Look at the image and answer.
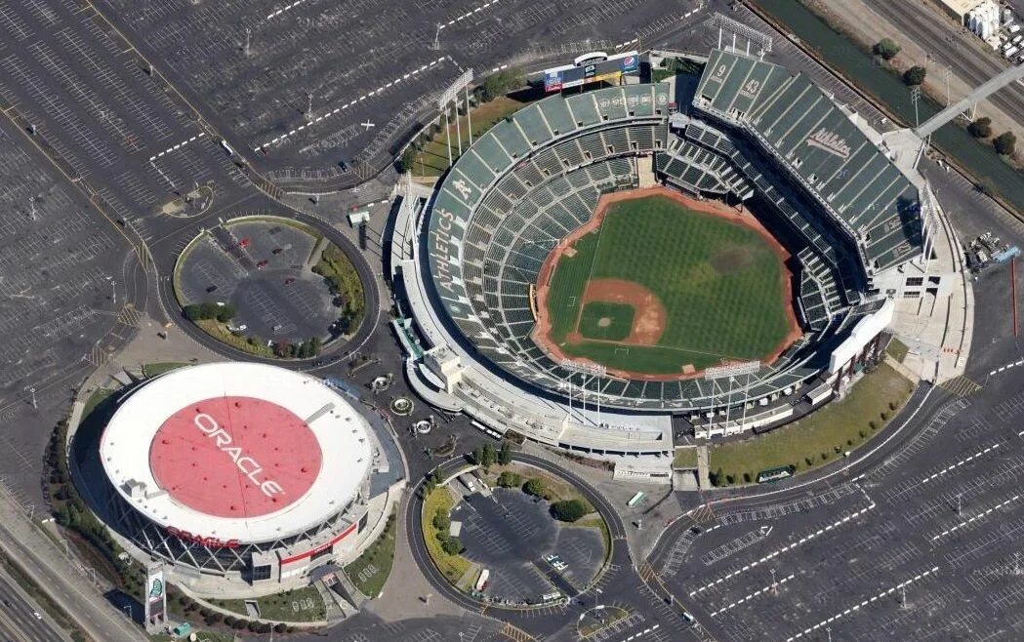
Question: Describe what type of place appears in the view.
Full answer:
What you see here is a sports ground.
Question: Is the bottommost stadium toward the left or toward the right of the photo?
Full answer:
The bottommost stadium sits on the left side.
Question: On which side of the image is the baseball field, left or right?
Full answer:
It is on the right.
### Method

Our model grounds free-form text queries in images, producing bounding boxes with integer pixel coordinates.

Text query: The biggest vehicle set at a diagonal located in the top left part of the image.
[220,138,234,153]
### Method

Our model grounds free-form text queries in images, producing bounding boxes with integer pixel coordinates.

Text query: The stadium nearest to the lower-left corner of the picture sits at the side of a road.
[89,361,407,622]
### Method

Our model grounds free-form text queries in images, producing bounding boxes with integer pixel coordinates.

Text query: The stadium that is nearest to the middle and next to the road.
[379,80,860,487]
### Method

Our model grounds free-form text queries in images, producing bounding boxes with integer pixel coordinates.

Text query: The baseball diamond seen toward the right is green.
[531,180,807,384]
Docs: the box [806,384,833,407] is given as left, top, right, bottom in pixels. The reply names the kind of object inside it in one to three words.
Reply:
shed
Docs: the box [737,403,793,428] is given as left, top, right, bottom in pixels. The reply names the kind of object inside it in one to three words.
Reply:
shed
